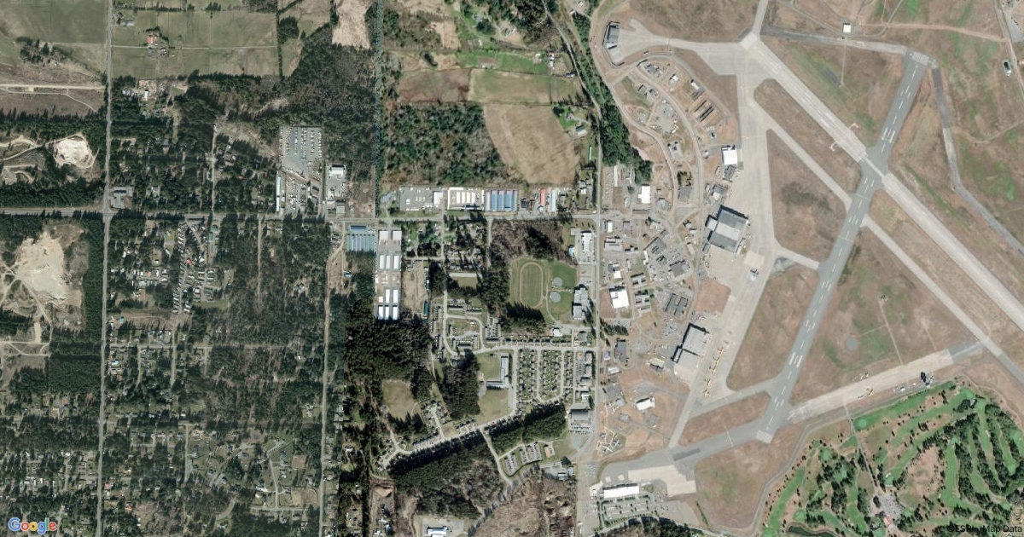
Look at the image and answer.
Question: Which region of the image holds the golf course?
bottom right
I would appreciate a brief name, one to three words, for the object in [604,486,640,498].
building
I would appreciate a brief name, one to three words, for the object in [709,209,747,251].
hangar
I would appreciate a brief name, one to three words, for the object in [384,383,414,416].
sports field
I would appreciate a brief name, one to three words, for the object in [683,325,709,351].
hangar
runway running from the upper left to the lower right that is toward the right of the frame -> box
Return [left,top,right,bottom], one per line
[737,27,1024,337]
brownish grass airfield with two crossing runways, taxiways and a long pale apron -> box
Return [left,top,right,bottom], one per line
[601,0,1024,497]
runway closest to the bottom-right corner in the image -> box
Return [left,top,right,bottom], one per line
[788,341,983,423]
